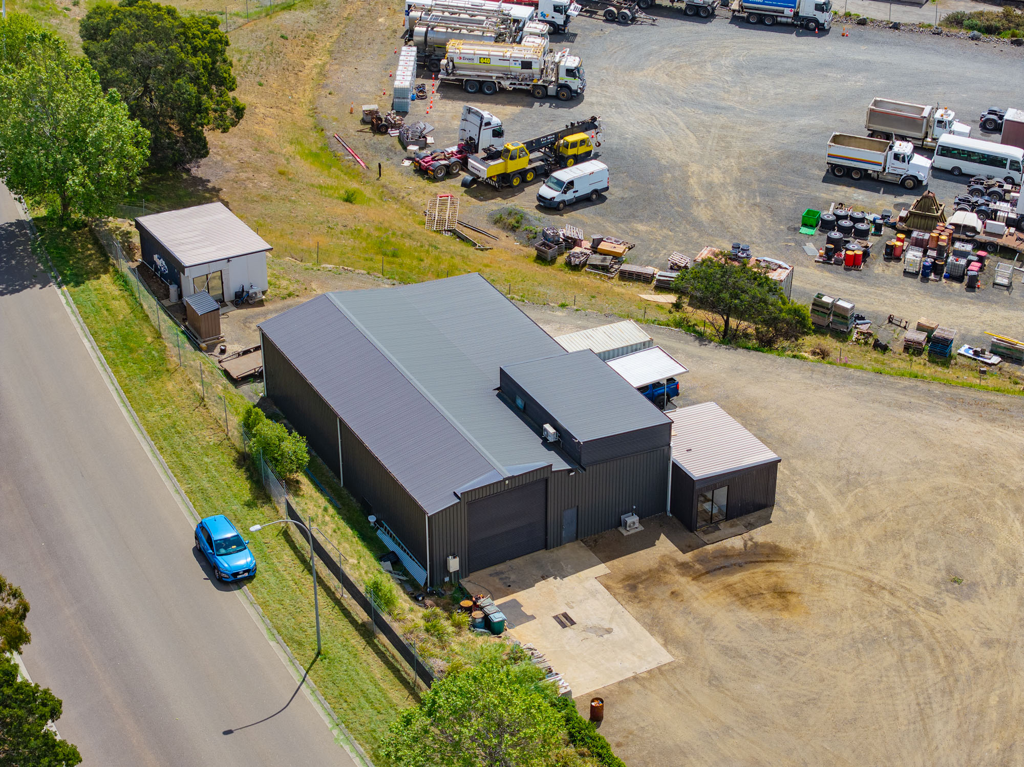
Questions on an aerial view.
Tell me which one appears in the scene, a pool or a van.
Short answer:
van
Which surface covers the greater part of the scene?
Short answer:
paved ground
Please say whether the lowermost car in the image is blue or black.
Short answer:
blue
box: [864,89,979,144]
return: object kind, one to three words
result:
truck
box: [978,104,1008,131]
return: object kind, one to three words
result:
truck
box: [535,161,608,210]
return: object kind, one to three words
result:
van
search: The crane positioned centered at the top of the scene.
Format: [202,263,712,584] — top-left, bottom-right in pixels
[473,106,593,192]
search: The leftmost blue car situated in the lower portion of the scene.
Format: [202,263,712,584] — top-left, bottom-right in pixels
[193,512,258,584]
